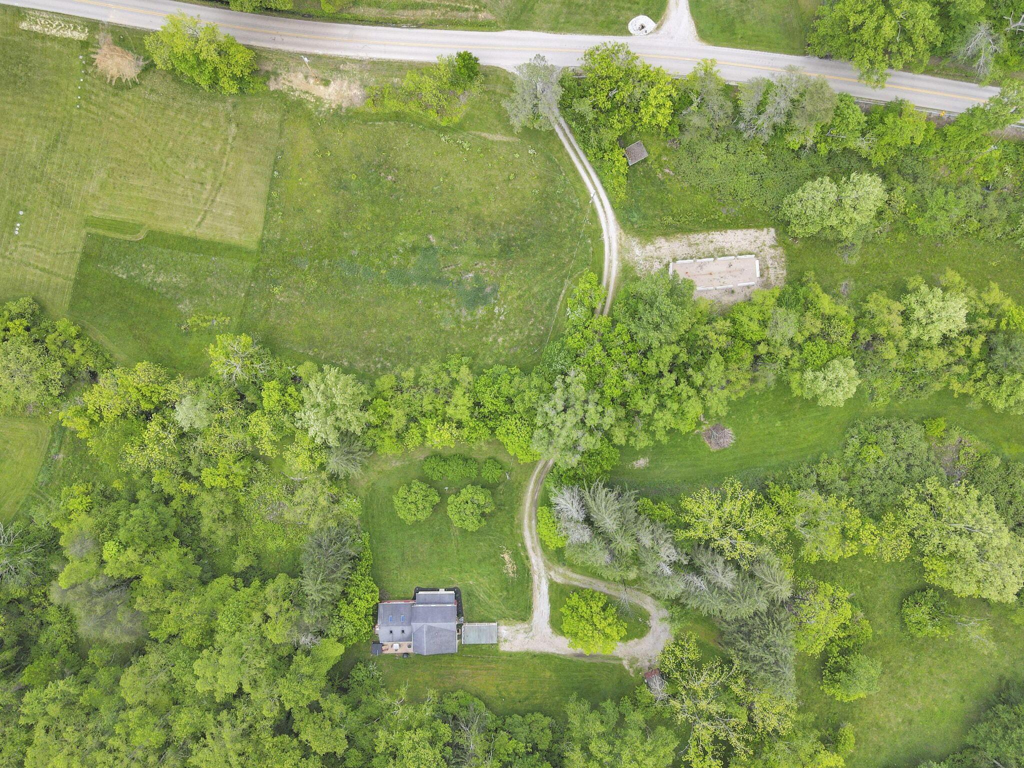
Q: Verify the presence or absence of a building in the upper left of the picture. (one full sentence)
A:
No, I can find no building in the upper left of the picture.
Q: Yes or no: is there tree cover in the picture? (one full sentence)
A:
Yes, there is tree cover in the image.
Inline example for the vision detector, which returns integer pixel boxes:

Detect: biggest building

[378,583,461,658]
